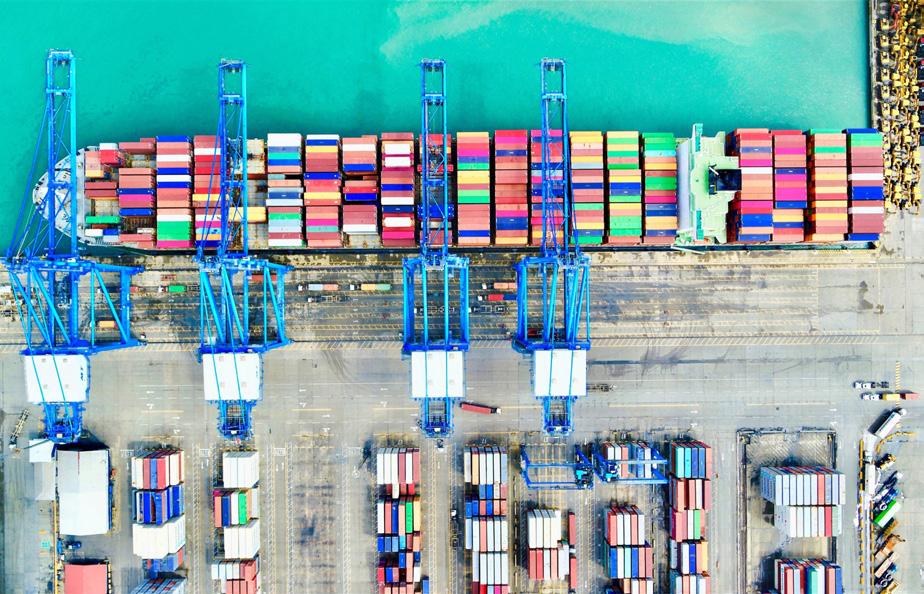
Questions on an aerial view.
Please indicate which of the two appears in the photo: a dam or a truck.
truck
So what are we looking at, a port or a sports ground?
port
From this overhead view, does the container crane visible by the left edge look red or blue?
blue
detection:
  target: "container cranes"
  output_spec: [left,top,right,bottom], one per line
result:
[521,445,591,489]
[401,60,471,439]
[510,59,592,437]
[596,442,670,487]
[1,51,143,442]
[194,61,294,441]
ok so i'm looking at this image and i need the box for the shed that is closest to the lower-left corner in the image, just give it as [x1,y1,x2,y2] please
[63,561,112,594]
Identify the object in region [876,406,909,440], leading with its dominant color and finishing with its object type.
white truck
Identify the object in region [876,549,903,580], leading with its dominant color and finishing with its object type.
white truck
